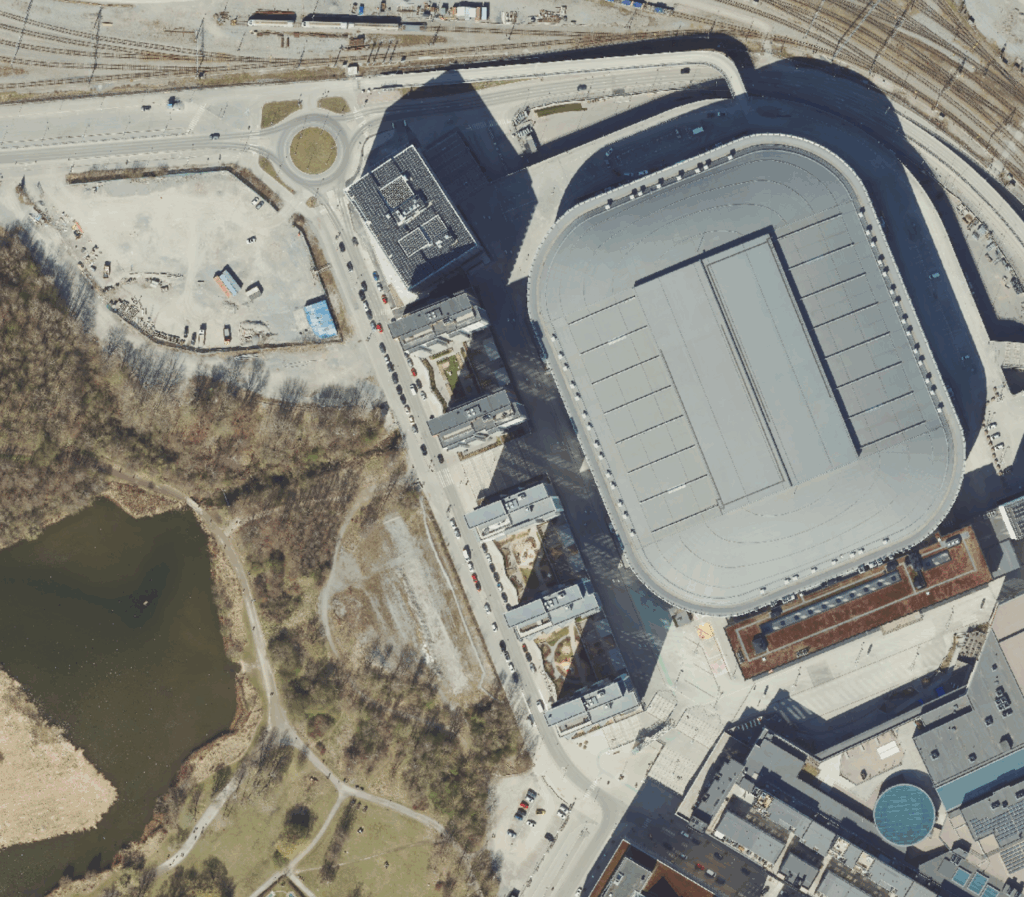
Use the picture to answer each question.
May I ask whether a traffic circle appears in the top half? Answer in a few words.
Yes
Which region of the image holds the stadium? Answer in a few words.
right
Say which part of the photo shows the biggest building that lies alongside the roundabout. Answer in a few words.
top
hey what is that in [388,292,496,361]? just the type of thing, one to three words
building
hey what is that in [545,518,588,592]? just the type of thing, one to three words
building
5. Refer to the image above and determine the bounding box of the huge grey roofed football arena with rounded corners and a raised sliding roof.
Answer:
[528,134,965,626]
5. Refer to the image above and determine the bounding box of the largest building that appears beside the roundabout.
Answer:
[347,146,482,296]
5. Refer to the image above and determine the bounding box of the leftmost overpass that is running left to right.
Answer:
[351,49,747,99]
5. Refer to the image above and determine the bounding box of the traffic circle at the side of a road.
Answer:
[277,114,350,186]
